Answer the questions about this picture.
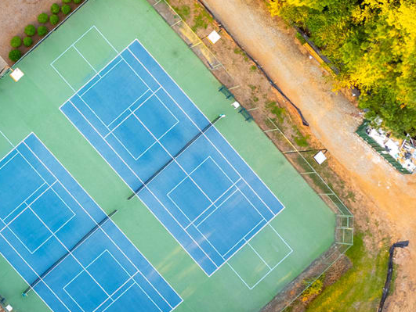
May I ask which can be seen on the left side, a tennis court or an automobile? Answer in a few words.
tennis court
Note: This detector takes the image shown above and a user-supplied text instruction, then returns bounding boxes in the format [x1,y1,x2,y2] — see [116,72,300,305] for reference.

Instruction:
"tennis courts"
[0,131,183,312]
[51,26,294,290]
